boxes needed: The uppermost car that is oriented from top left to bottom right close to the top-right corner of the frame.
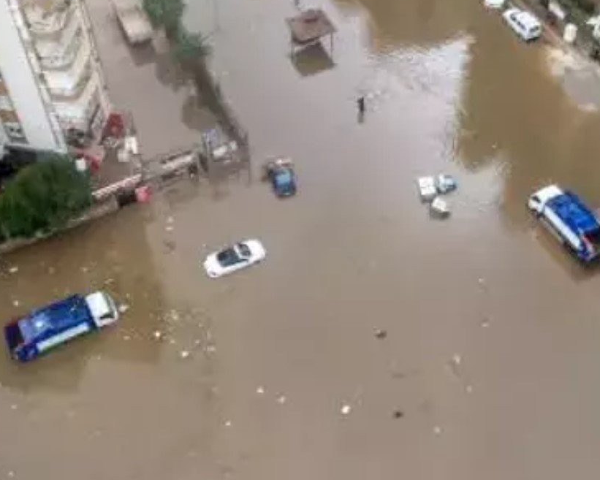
[502,2,541,32]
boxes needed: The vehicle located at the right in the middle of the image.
[536,190,600,270]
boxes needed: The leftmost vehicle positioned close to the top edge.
[111,0,151,38]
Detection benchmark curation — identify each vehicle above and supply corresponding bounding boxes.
[0,292,113,369]
[203,234,266,272]
[111,0,151,38]
[502,2,541,32]
[265,163,298,199]
[536,190,600,270]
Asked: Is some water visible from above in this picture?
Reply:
Yes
